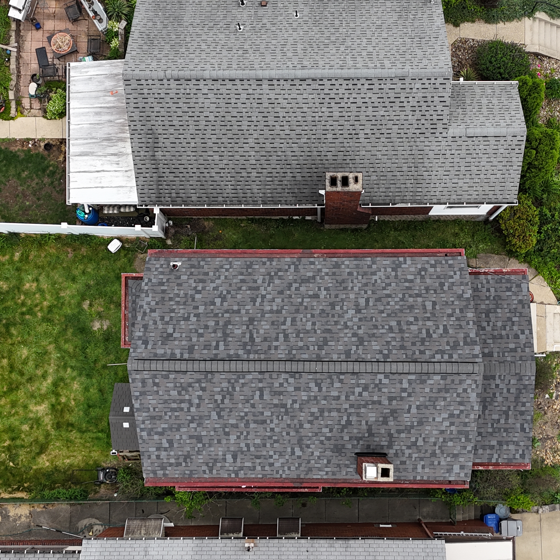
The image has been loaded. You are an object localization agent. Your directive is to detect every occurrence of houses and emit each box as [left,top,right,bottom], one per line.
[109,249,537,494]
[64,0,526,231]
[0,518,515,560]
